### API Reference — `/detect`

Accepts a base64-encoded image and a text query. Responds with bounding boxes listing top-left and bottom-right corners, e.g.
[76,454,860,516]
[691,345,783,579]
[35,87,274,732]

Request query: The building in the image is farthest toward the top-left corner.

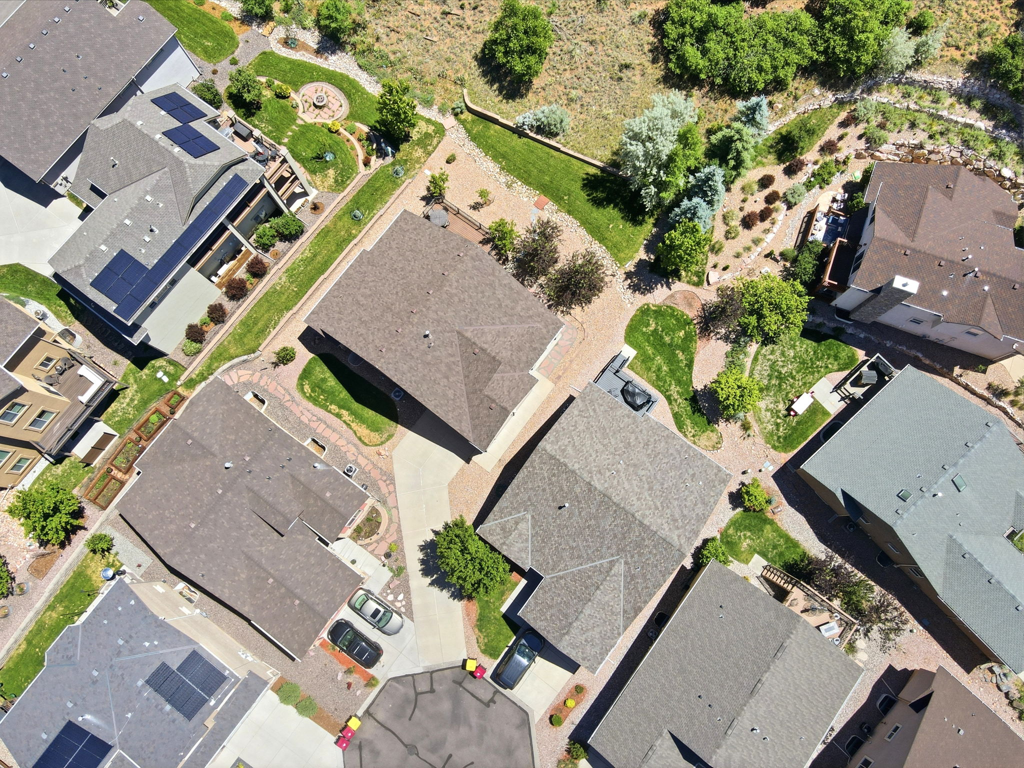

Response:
[0,0,192,196]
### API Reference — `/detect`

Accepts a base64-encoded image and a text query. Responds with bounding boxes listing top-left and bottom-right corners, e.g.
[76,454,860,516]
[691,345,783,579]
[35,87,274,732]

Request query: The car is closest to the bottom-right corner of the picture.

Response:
[496,623,547,696]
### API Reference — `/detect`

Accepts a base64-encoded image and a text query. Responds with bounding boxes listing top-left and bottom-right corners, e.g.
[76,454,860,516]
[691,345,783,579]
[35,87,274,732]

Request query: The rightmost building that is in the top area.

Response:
[834,161,1024,358]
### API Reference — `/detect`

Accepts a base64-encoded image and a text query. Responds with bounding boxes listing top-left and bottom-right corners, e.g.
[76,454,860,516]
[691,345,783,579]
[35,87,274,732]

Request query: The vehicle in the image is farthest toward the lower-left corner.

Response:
[327,617,385,675]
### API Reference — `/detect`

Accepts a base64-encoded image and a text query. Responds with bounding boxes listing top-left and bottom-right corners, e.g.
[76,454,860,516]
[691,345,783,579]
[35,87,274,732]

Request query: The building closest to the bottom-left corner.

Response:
[0,577,279,768]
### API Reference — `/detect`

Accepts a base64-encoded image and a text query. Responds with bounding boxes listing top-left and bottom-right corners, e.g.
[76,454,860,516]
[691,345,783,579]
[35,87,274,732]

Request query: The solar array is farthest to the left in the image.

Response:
[34,721,113,768]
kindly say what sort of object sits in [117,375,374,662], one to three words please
house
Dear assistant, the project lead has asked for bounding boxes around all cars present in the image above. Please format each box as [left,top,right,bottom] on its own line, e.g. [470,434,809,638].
[496,623,547,696]
[348,586,408,636]
[327,617,385,675]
